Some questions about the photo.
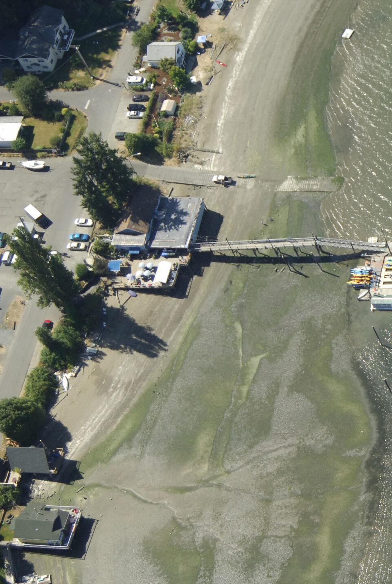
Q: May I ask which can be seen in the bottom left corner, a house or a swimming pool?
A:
house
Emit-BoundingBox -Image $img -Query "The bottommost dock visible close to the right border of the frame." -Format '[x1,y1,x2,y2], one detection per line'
[358,252,392,312]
